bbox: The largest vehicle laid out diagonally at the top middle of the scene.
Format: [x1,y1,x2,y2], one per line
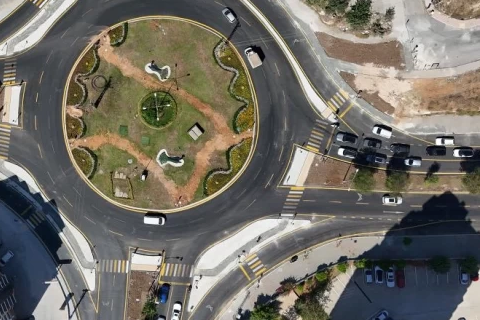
[244,45,263,69]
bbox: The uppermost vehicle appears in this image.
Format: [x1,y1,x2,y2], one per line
[222,7,236,23]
